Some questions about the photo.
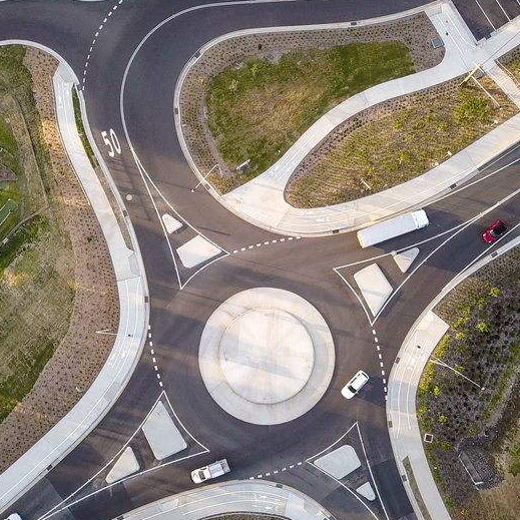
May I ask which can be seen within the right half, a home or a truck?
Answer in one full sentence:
Looking within the right half, you will find a truck.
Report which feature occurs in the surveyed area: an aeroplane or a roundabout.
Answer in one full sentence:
Looking from above, you can make out a roundabout.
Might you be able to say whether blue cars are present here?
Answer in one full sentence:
No, there appears to be no blue car in this shot.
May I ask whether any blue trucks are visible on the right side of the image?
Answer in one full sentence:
No, there's no blue truck to be seen on the right side of the image.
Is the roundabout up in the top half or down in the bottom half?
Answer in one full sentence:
Seen from above, the roundabout lies in the bottom half of the view.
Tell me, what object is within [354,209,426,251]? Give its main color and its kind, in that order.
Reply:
white truck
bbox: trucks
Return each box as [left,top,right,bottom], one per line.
[189,458,231,484]
[354,209,426,251]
